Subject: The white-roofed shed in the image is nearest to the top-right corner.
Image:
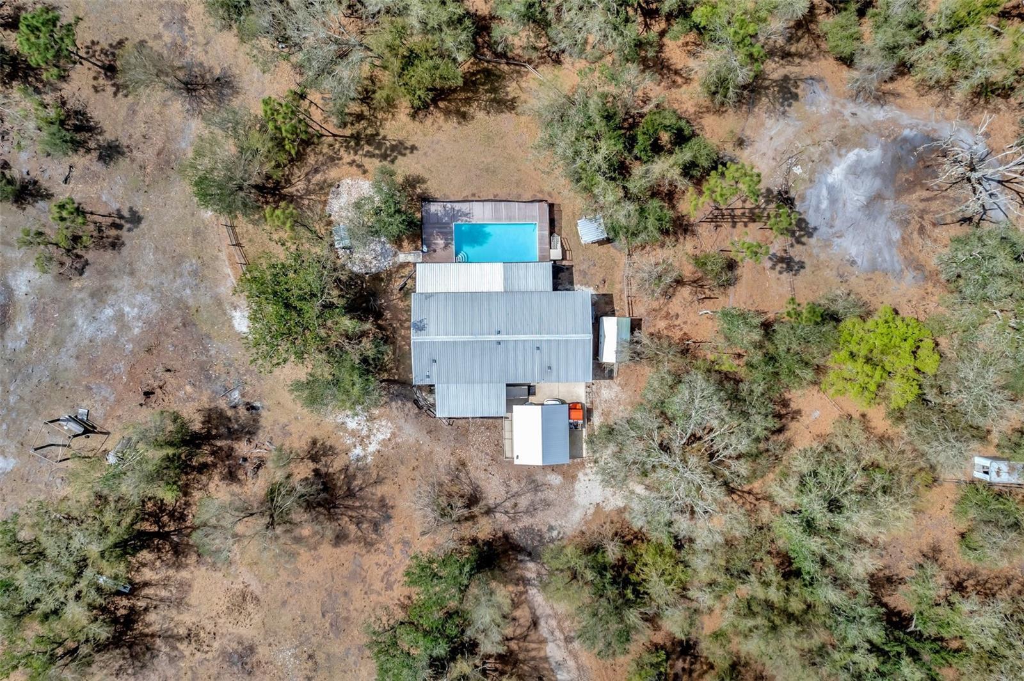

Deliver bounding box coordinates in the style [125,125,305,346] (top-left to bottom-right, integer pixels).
[574,215,608,249]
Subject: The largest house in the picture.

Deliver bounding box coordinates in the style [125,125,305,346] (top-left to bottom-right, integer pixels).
[410,262,593,417]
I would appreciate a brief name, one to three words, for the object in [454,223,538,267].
swimming pool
